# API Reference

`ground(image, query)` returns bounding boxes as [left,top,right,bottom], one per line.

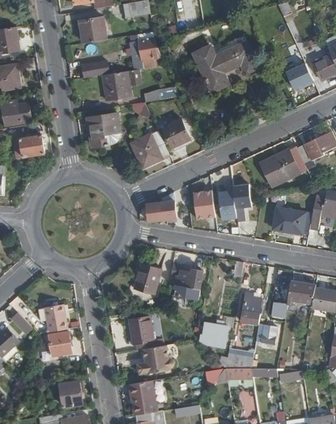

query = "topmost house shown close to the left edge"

[0,26,25,60]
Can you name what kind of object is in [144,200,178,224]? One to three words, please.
house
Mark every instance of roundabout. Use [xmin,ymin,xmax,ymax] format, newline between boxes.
[19,161,139,281]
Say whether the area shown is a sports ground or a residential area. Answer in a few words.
residential area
